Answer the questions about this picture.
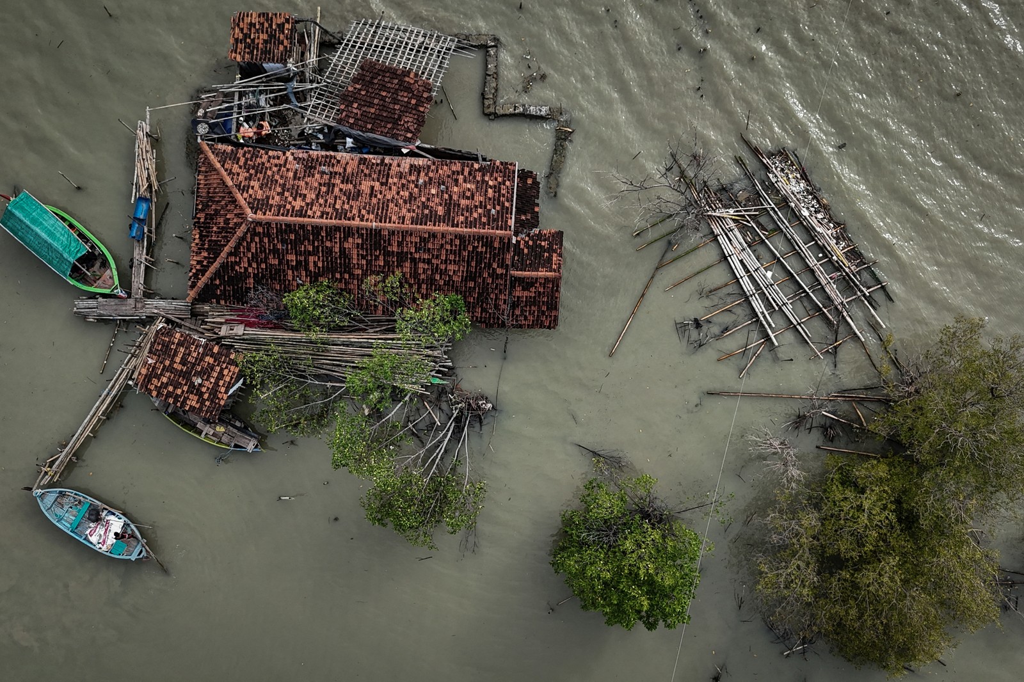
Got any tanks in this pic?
No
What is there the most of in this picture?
water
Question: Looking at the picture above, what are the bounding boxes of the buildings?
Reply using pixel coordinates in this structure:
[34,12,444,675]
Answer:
[184,131,565,330]
[135,323,260,422]
[334,58,434,148]
[227,10,308,77]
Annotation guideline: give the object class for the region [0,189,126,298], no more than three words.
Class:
boat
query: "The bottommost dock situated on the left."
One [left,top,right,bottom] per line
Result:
[73,294,195,323]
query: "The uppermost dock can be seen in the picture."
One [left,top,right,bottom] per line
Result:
[131,107,163,299]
